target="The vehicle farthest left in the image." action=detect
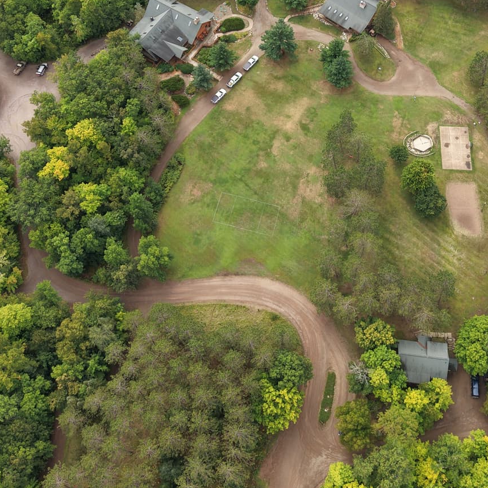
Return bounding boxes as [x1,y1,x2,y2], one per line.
[12,61,28,77]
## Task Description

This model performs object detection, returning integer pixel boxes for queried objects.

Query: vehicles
[12,61,28,77]
[226,71,243,88]
[35,63,49,77]
[210,87,228,104]
[470,373,481,400]
[243,55,259,71]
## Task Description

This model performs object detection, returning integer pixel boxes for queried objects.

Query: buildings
[128,0,222,67]
[319,0,384,37]
[396,334,457,387]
